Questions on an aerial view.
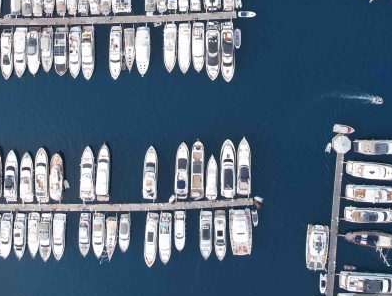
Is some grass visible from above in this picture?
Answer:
No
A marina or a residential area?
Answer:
marina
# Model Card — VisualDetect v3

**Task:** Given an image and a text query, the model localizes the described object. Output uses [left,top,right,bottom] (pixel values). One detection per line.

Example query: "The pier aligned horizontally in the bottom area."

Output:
[0,198,254,212]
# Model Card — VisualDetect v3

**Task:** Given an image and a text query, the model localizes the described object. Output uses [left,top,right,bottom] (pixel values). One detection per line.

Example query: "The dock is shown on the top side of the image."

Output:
[0,11,236,25]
